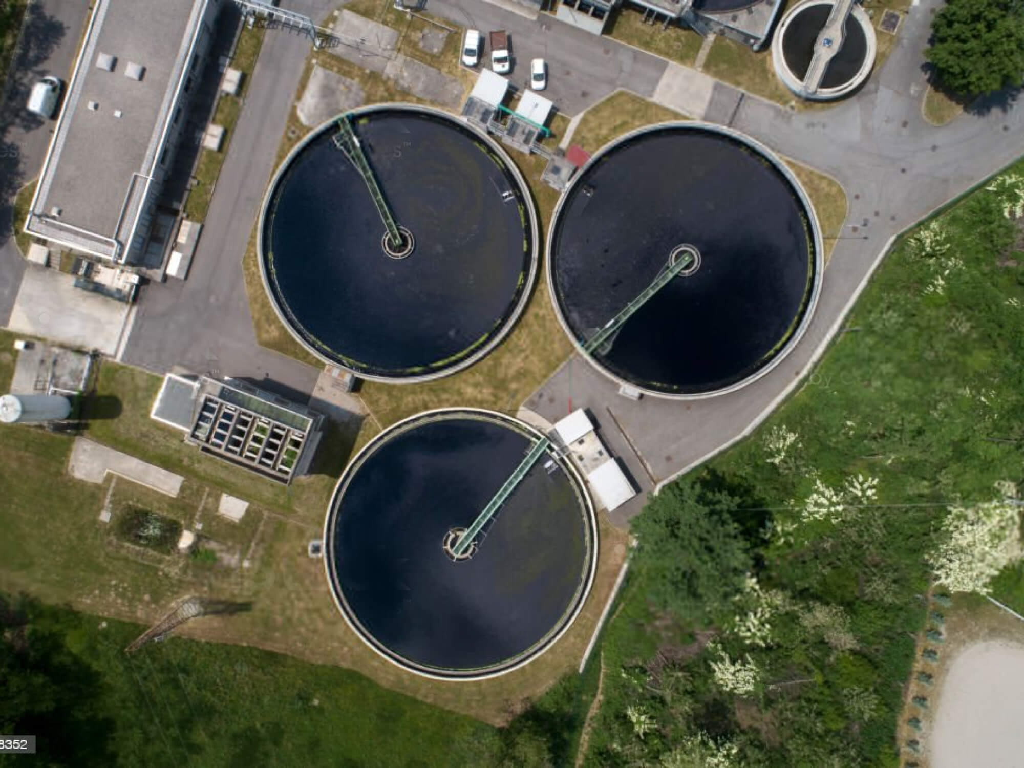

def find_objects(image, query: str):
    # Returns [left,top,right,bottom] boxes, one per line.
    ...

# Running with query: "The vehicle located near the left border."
[28,75,60,117]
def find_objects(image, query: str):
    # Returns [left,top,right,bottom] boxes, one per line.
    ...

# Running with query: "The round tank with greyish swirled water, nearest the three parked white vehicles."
[258,103,539,384]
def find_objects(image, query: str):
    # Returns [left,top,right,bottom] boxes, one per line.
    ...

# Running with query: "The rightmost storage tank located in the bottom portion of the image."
[324,407,598,681]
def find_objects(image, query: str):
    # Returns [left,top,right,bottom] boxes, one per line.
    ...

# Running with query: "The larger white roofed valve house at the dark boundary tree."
[588,458,636,511]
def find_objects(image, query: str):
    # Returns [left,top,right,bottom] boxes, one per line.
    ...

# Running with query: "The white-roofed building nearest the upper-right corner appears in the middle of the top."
[516,90,553,129]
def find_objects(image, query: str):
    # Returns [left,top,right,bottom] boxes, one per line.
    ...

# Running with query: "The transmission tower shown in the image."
[125,593,210,652]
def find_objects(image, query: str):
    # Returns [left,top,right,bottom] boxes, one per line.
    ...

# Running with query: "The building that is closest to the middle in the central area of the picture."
[554,408,593,444]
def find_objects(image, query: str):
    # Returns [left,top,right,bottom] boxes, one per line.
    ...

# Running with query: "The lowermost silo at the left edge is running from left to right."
[0,393,67,424]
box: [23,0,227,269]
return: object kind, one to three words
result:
building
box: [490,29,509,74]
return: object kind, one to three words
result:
vehicle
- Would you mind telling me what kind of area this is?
industrial area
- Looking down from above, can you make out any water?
Yes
